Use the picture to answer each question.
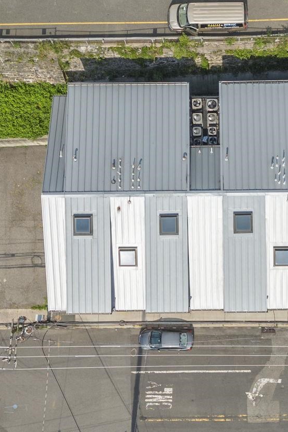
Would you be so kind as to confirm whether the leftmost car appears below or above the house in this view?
below it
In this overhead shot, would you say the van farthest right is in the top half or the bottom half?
top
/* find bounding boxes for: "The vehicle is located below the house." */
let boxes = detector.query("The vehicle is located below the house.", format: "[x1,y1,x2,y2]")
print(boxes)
[138,325,195,353]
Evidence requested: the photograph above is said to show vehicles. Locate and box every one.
[170,0,246,40]
[138,325,195,353]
